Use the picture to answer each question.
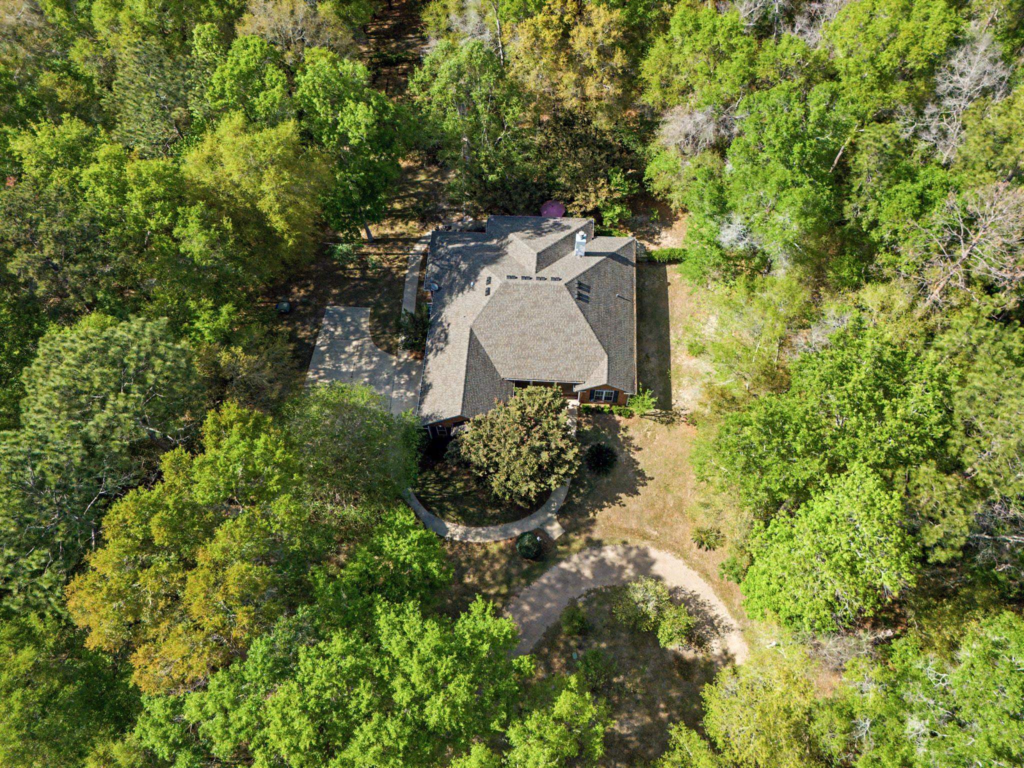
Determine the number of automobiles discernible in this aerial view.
0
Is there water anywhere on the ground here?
No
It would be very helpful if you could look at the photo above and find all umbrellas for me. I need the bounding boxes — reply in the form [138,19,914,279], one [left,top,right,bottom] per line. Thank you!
[540,200,565,217]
